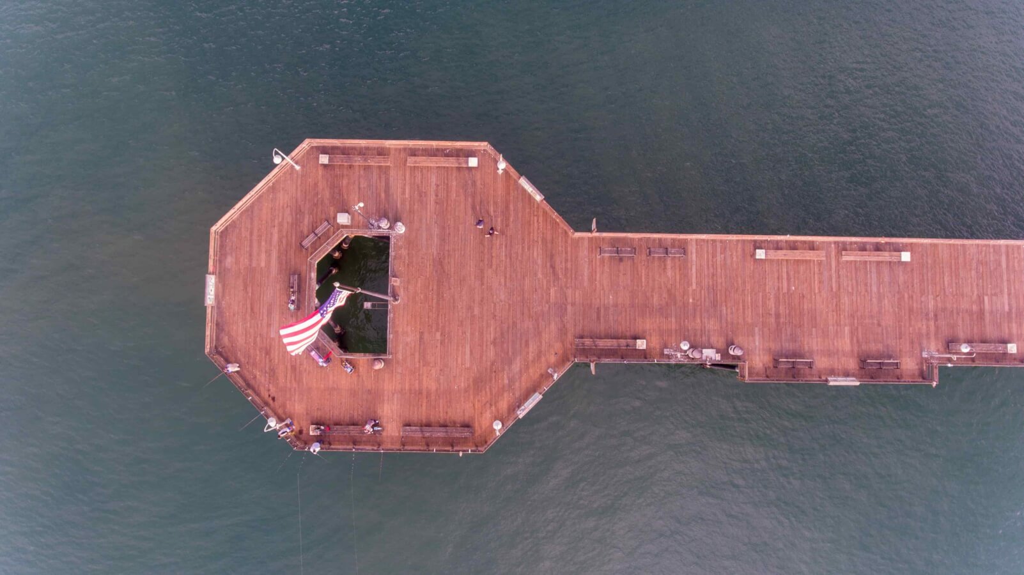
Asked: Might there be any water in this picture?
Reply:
Yes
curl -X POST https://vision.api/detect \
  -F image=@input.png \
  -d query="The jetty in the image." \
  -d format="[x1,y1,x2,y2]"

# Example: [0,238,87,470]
[205,139,1024,455]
